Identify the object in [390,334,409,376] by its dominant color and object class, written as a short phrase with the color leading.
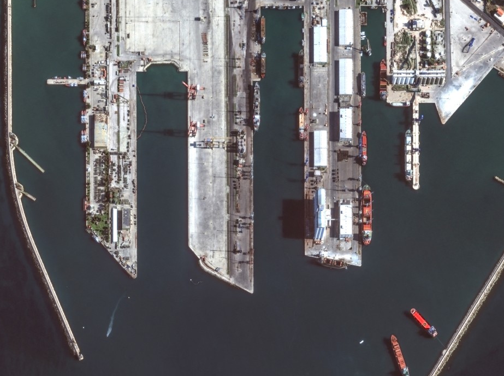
red ship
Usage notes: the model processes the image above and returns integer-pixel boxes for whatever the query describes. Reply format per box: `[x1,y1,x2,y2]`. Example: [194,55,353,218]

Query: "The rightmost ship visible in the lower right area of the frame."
[411,308,444,345]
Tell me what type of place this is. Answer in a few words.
port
